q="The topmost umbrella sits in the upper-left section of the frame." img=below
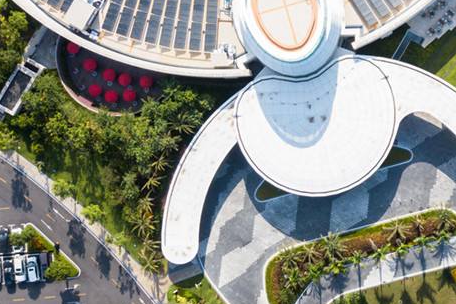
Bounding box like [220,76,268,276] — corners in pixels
[67,41,81,55]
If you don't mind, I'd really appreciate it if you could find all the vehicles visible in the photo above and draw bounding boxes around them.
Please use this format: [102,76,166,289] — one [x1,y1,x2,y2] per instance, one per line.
[2,259,15,284]
[13,256,28,282]
[27,256,40,281]
[12,227,26,253]
[0,229,13,254]
[37,250,50,276]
